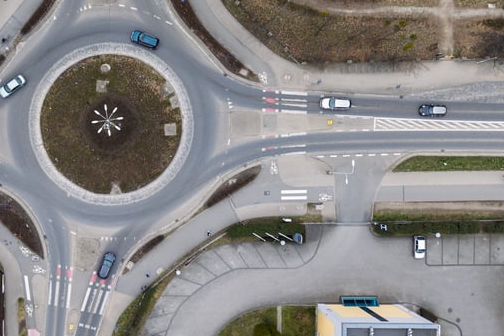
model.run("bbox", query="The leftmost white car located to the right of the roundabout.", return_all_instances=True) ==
[320,94,354,110]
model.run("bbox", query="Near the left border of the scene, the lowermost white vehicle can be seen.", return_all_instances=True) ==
[0,72,26,98]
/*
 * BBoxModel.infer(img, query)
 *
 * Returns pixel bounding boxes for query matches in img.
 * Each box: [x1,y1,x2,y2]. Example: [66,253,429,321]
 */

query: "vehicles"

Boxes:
[0,72,26,98]
[96,249,117,281]
[320,94,354,110]
[419,102,450,116]
[414,236,430,261]
[129,29,159,48]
